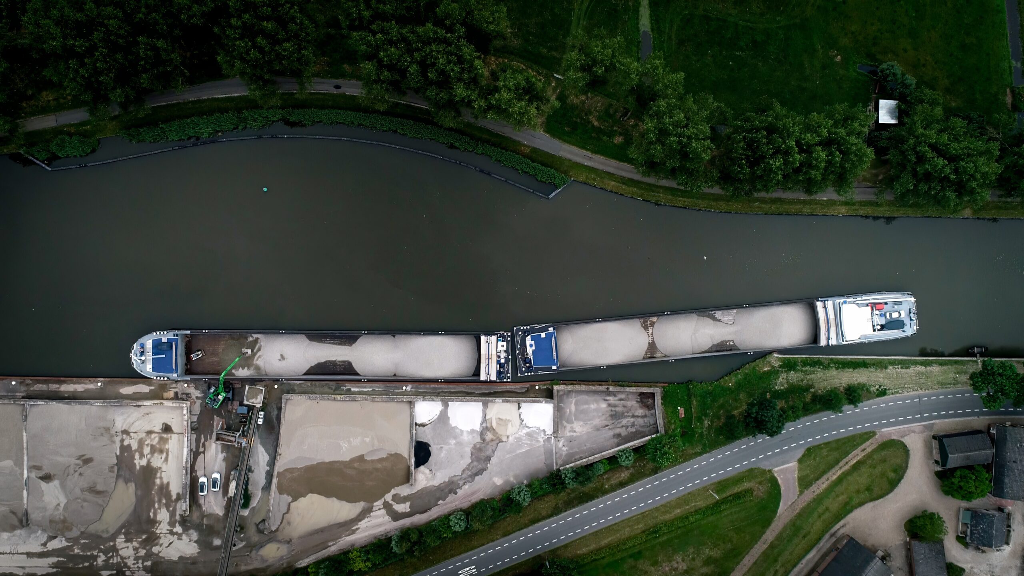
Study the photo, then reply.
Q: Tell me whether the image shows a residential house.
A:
Yes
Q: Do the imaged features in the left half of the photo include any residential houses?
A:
No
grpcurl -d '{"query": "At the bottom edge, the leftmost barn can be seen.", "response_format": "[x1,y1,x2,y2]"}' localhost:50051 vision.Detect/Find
[811,535,900,576]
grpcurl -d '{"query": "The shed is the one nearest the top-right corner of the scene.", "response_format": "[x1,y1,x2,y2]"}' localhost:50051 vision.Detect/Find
[873,100,898,125]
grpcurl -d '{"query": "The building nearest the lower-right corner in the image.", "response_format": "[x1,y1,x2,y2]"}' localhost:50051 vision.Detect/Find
[955,506,1013,549]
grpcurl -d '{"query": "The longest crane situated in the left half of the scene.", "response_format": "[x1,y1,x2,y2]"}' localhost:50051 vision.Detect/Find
[205,348,255,410]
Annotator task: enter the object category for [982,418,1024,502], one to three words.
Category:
barn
